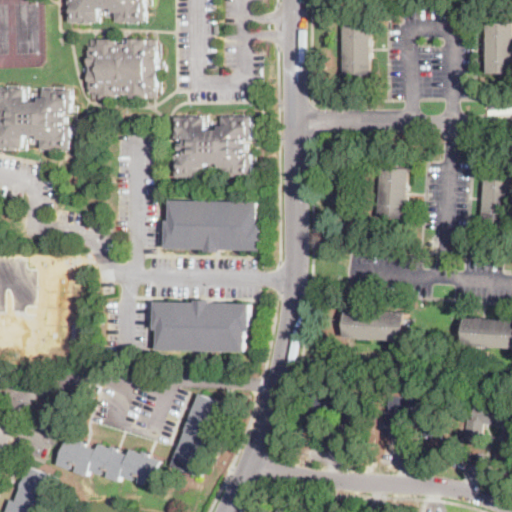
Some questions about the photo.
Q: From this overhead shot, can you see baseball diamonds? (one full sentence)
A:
No, I can't see a single baseball diamond in this photo.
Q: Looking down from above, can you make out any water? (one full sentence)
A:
No, there's no water in this view.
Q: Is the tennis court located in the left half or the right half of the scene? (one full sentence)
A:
It is on the left.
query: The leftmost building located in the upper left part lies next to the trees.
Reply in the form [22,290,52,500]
[0,85,82,154]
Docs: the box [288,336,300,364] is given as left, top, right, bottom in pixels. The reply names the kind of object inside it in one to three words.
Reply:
vehicle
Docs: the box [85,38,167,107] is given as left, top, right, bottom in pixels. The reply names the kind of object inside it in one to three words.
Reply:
building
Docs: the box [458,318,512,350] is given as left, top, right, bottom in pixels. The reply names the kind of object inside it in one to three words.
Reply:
house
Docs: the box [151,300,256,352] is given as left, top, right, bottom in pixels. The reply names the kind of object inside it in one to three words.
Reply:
building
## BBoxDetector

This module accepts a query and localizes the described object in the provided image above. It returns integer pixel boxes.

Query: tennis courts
[0,0,45,67]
